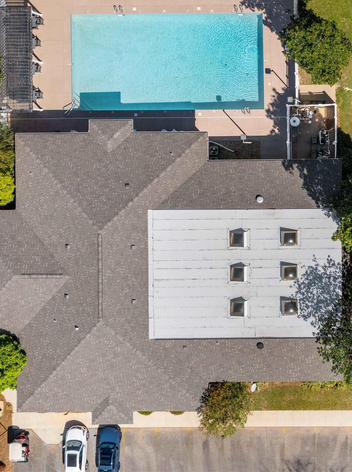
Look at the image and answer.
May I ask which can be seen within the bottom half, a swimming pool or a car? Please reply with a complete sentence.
You can see a car within the bottom half.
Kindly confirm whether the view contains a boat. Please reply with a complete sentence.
No, the frame has no boat in it.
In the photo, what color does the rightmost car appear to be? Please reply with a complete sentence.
In this view, the rightmost car is blue.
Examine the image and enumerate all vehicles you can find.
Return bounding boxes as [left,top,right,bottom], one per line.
[6,436,29,468]
[94,429,120,472]
[60,429,87,472]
